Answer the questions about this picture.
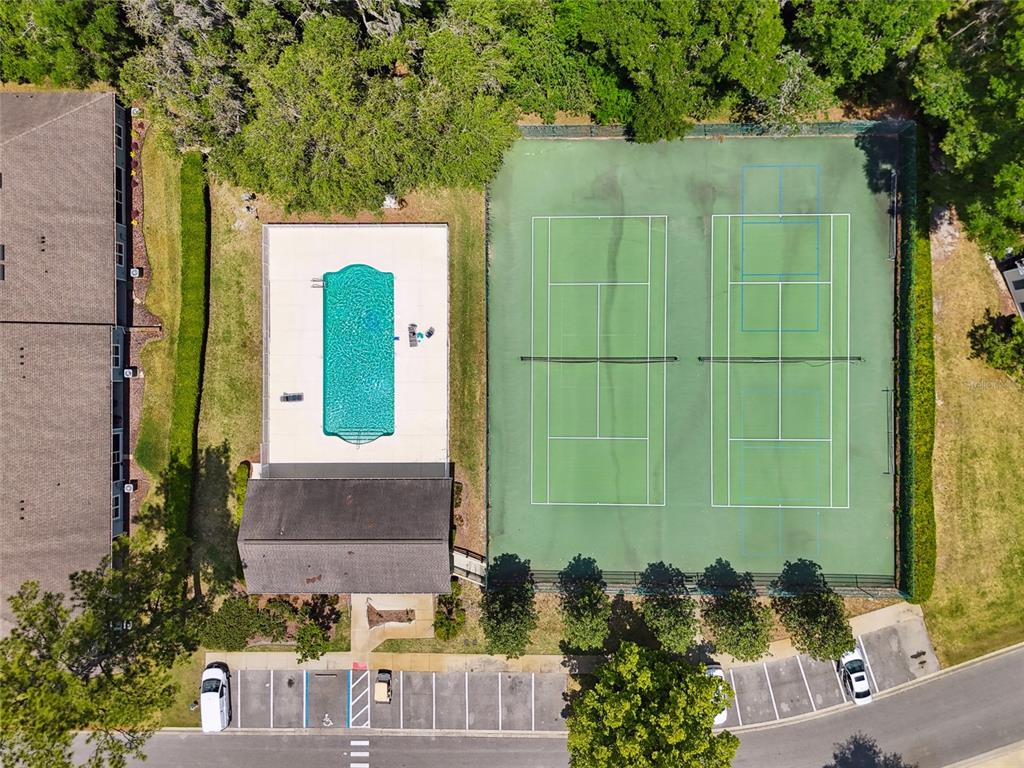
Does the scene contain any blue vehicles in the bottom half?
No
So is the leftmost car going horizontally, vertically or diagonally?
vertically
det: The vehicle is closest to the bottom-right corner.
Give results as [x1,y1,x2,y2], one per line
[837,644,874,708]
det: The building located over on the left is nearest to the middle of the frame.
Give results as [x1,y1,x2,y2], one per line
[238,477,451,598]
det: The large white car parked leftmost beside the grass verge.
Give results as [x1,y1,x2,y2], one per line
[199,669,231,731]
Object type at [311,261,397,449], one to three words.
swimming pool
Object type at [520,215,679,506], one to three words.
tennis court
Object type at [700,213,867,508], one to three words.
tennis court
